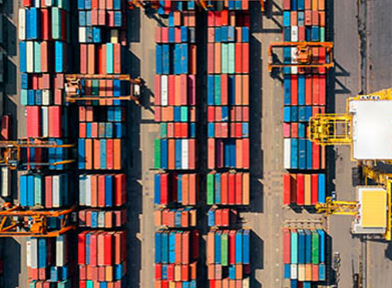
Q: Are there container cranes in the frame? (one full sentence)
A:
Yes, the picture does show a container crane.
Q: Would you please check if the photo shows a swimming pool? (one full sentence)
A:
No, the scene contains no swimming pool.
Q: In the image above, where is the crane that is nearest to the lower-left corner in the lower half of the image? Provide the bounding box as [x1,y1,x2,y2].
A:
[0,200,79,238]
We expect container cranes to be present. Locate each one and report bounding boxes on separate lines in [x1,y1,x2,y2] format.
[0,135,78,167]
[311,163,392,245]
[0,200,79,238]
[198,0,270,16]
[266,38,334,77]
[64,70,147,107]
[307,87,392,166]
[132,0,206,16]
